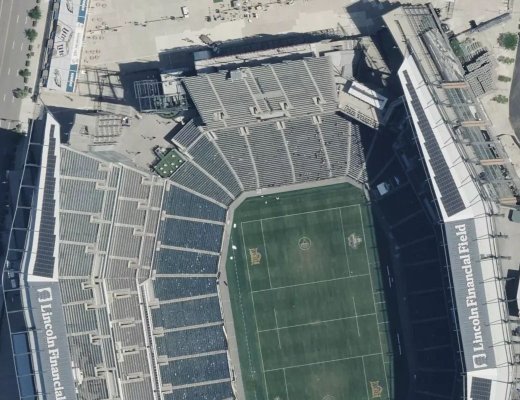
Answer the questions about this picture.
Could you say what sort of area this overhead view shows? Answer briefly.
sports ground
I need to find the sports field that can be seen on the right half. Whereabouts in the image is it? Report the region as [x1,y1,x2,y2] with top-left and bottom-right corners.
[226,182,418,400]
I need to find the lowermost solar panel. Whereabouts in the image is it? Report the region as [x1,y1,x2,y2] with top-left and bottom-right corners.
[469,377,493,400]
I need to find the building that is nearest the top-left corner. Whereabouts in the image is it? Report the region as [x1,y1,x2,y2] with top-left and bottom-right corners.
[42,0,99,92]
